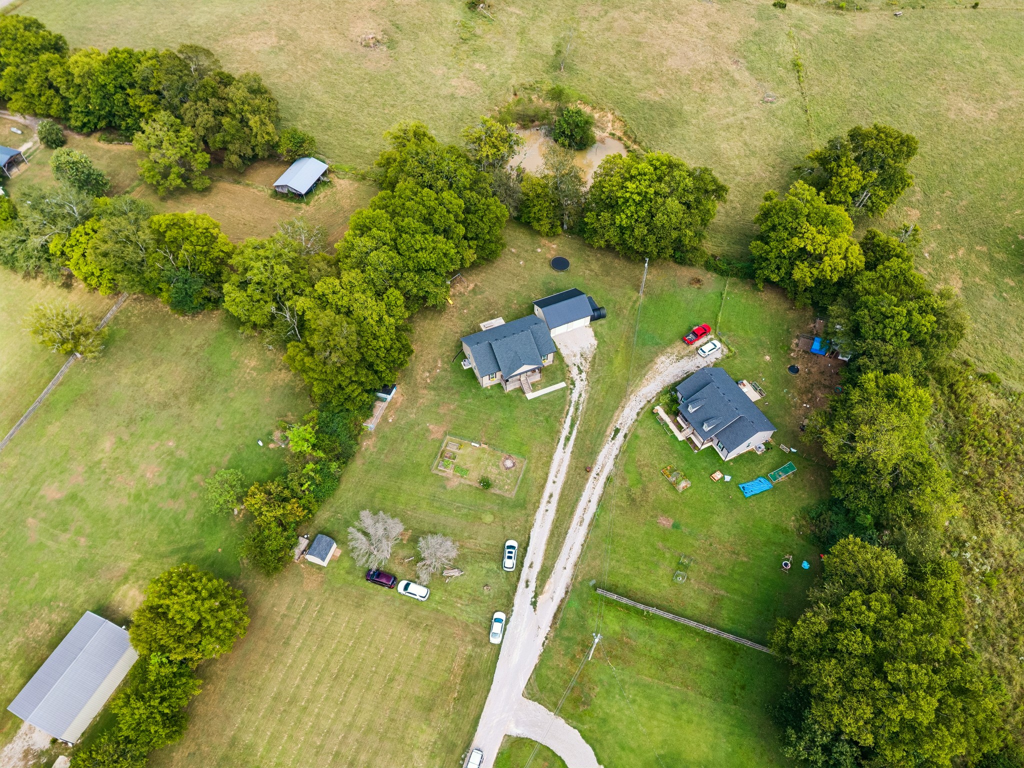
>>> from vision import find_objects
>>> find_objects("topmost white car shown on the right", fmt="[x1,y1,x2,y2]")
[698,342,720,358]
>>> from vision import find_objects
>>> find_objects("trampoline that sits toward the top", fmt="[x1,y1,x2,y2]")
[550,257,570,274]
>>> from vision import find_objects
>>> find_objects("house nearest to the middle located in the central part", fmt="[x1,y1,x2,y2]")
[461,315,557,394]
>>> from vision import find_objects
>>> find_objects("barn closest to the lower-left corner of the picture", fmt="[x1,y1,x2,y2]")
[7,608,139,742]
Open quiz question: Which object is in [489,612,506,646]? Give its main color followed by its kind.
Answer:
white car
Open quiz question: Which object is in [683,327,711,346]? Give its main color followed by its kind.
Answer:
red vehicle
